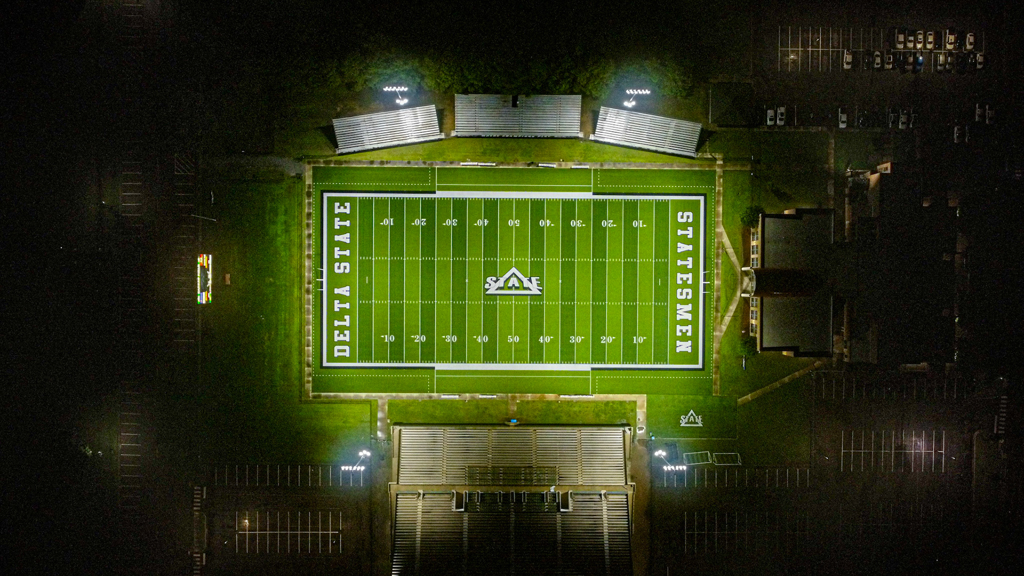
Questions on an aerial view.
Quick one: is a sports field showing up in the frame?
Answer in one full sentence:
Yes, there is a sports field in the image.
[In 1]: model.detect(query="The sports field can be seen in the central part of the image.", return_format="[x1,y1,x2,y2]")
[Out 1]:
[312,168,716,395]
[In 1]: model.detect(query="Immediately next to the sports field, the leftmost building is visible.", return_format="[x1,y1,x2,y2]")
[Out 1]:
[739,208,833,358]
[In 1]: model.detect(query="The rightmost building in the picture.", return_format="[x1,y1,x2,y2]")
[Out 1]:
[841,163,962,373]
